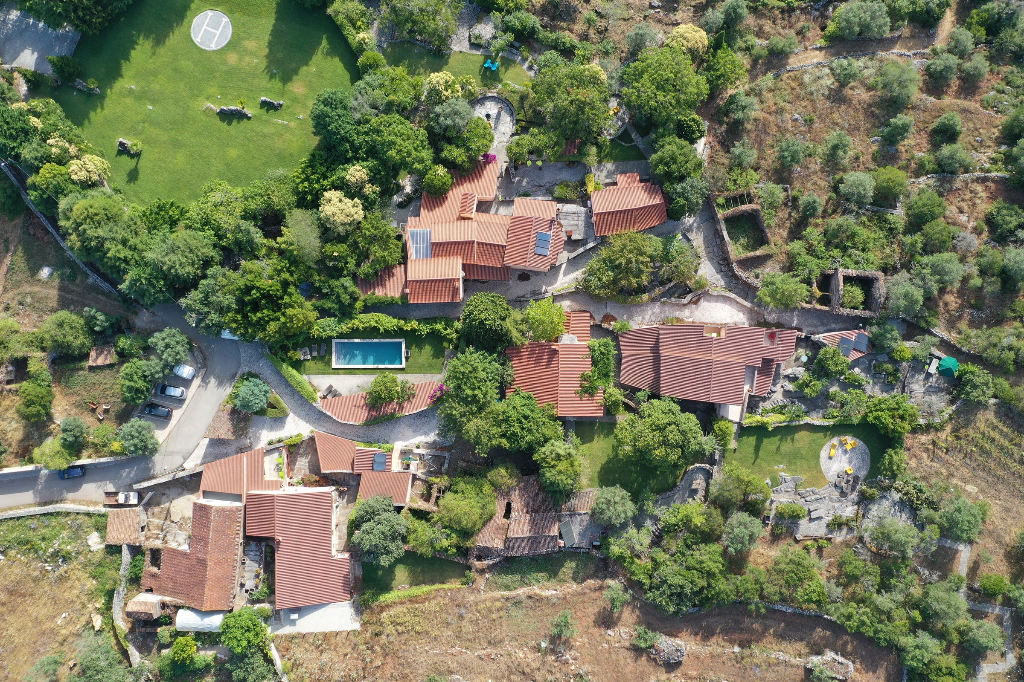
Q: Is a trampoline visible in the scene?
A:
No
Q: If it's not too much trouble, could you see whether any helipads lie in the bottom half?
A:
No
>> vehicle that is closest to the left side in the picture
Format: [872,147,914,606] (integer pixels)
[58,466,87,481]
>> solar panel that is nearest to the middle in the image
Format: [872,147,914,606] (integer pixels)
[534,232,551,256]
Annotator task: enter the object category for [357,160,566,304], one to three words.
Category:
house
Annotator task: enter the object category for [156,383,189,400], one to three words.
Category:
car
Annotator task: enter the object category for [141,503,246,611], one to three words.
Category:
barn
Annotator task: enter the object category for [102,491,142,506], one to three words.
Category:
vehicle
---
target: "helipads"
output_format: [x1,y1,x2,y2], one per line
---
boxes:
[190,8,232,50]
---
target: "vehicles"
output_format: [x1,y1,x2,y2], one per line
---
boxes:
[156,383,189,400]
[144,402,175,420]
[168,363,199,379]
[58,466,87,481]
[102,491,142,506]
